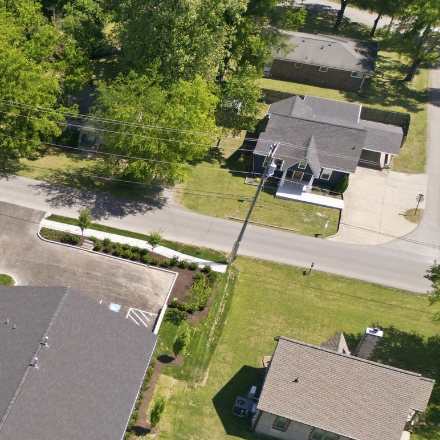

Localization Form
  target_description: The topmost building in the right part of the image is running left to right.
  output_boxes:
[255,27,382,93]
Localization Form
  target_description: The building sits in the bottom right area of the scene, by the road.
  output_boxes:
[251,317,432,440]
